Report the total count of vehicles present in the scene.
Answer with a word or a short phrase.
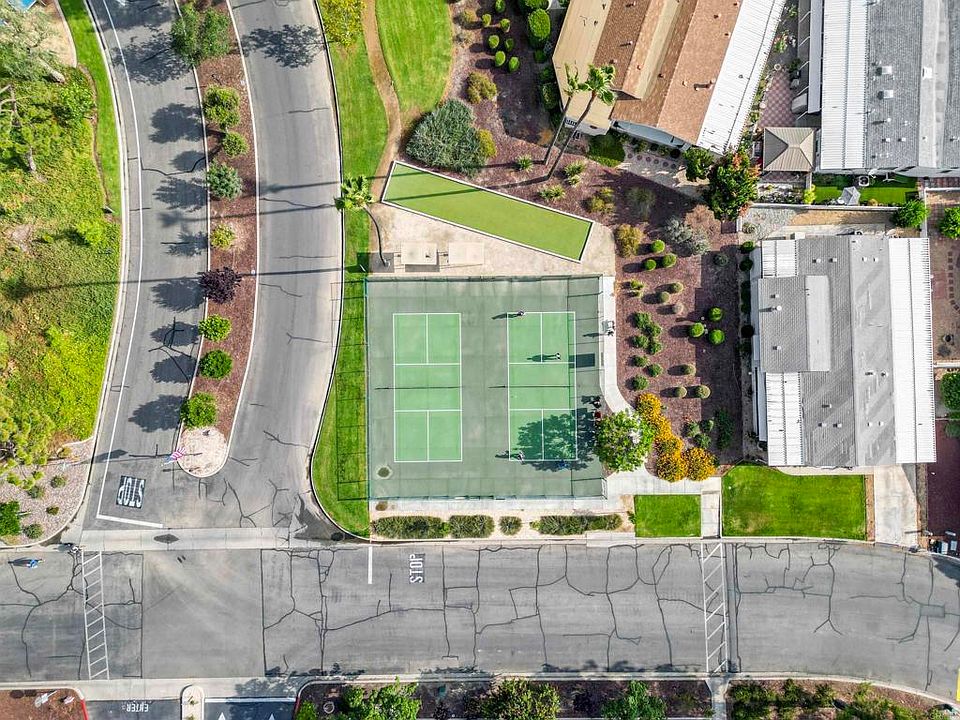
0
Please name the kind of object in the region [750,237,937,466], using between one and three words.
house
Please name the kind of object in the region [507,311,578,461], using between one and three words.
sports court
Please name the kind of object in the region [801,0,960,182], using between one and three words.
house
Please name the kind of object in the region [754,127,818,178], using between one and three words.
gazebo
